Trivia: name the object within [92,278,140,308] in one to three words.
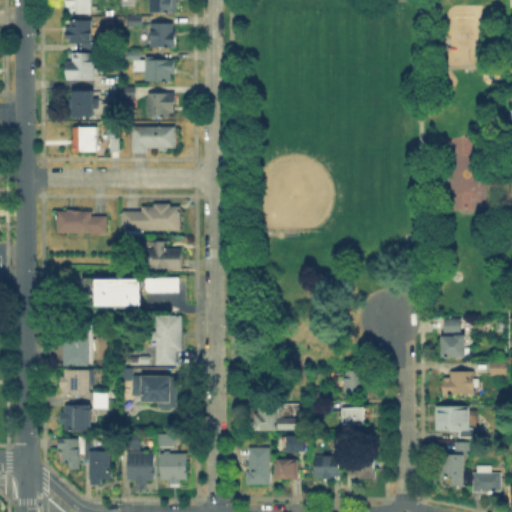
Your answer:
building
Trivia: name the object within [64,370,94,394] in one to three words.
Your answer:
house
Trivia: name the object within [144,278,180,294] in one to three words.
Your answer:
house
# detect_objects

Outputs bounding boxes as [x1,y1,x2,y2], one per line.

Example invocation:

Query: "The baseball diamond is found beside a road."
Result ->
[239,0,419,282]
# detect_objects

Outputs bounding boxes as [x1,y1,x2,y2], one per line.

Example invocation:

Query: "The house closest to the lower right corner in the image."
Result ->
[474,465,502,496]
